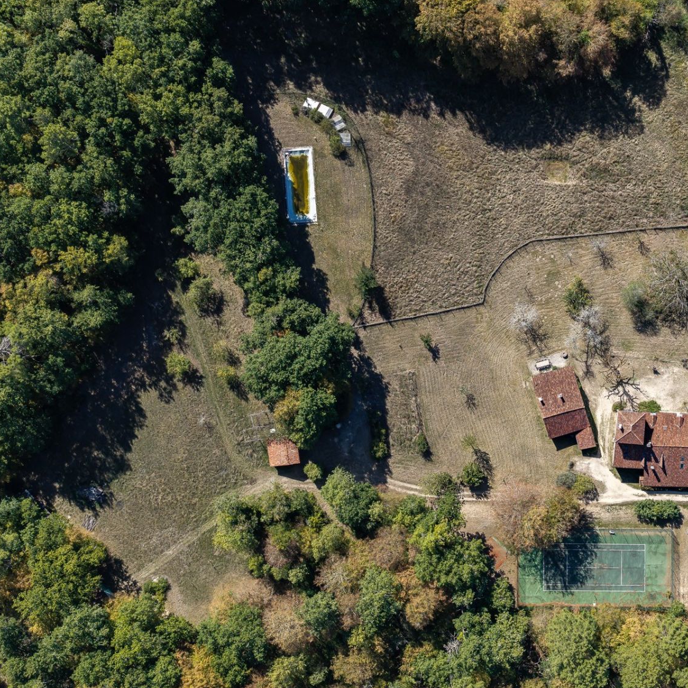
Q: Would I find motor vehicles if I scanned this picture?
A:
No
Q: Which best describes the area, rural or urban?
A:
rural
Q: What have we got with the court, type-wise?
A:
tennis court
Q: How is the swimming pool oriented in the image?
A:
from top to bottom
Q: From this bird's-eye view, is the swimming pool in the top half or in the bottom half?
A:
top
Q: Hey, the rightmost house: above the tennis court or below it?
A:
above it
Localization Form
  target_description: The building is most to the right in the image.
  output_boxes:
[613,411,688,487]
